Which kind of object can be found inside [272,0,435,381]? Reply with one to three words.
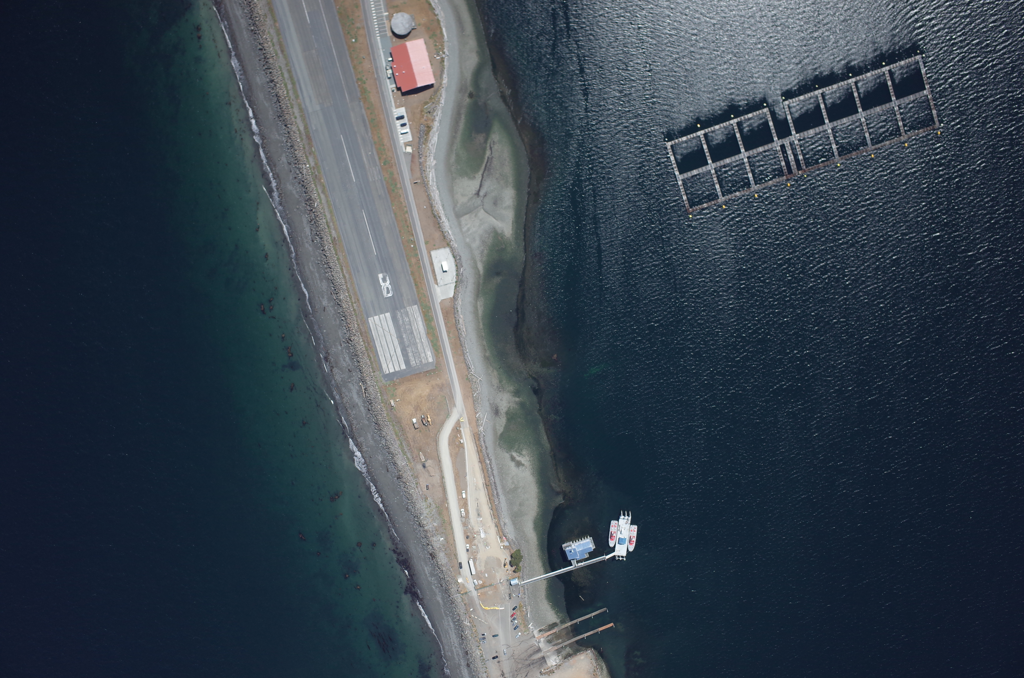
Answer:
runway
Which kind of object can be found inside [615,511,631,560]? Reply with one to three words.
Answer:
ship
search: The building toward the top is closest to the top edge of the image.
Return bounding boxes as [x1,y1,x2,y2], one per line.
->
[391,38,435,92]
